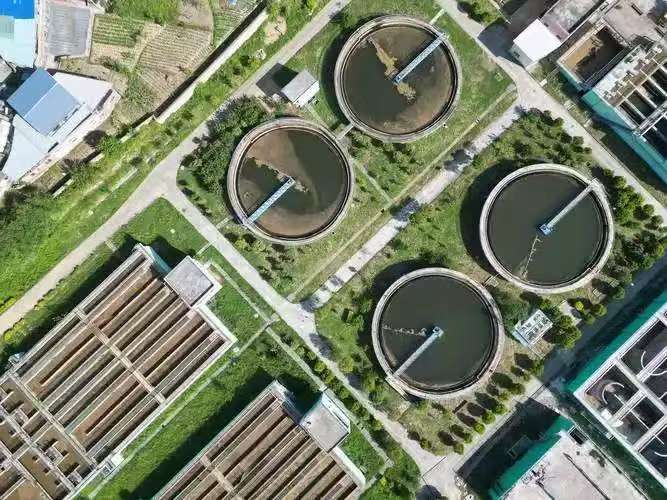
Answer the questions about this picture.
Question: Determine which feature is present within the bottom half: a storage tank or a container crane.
storage tank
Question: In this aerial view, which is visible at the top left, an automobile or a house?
house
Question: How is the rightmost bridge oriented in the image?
at an angle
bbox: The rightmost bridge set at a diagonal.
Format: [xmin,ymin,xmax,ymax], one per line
[541,180,599,236]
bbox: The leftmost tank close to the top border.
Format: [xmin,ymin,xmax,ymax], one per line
[334,16,462,146]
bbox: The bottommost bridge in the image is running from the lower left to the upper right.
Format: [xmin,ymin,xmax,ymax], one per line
[388,327,447,383]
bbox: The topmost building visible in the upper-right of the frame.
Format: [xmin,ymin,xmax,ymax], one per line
[539,0,595,42]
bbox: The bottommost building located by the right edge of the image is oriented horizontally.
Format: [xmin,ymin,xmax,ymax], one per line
[475,417,647,500]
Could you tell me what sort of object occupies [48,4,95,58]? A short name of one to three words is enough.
shed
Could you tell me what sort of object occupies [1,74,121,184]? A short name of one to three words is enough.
house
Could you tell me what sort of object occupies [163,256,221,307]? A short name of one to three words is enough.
building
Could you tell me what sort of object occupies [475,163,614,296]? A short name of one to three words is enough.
storage tank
